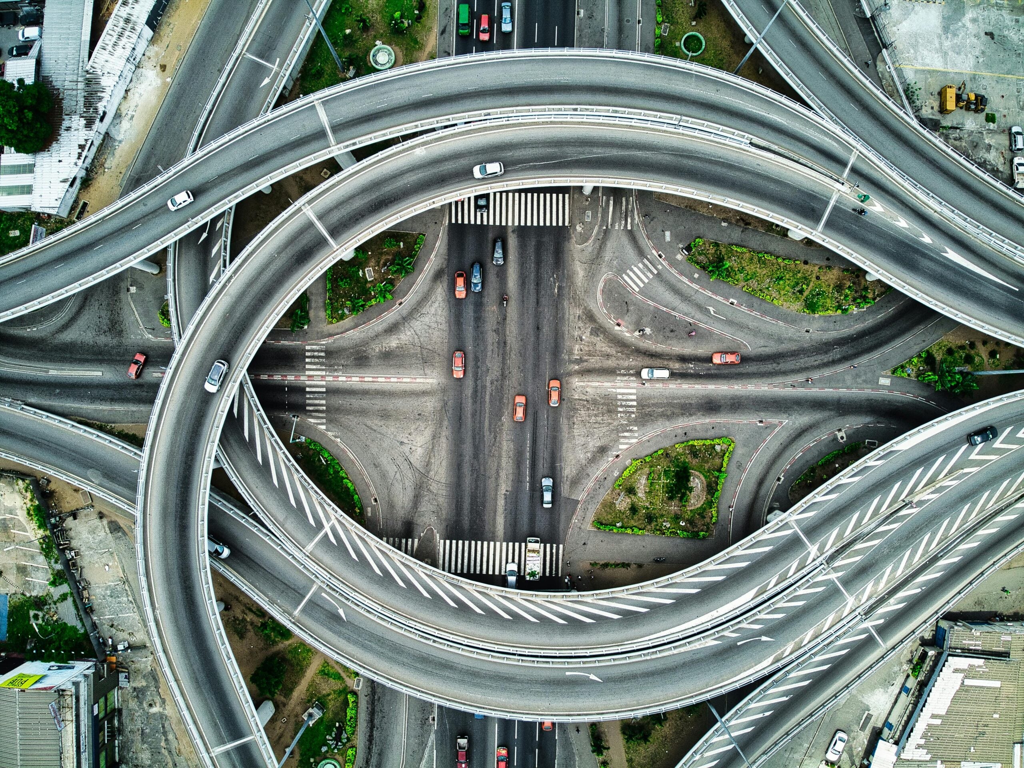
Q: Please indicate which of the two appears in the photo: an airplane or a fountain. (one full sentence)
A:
Visible in the photo is a fountain.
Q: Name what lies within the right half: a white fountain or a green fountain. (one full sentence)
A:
The feature located within the right half is a green fountain.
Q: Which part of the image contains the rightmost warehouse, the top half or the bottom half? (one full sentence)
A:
The rightmost warehouse sits in the bottom half of the picture.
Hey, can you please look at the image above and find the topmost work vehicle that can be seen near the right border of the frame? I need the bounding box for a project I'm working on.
[959,78,989,116]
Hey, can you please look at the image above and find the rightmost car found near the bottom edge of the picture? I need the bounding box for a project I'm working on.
[827,729,846,759]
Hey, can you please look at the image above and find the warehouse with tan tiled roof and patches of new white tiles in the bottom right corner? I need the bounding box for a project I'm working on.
[886,615,1024,768]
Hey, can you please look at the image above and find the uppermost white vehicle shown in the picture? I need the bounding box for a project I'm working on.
[17,25,43,42]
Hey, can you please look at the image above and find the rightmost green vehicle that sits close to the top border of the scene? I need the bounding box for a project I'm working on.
[457,1,470,36]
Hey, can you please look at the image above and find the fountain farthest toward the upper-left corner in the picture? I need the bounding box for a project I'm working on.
[369,42,395,69]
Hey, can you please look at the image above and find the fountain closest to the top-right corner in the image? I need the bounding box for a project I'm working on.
[681,30,707,56]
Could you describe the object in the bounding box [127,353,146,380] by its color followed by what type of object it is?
red car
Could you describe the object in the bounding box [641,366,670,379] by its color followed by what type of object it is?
white vehicle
